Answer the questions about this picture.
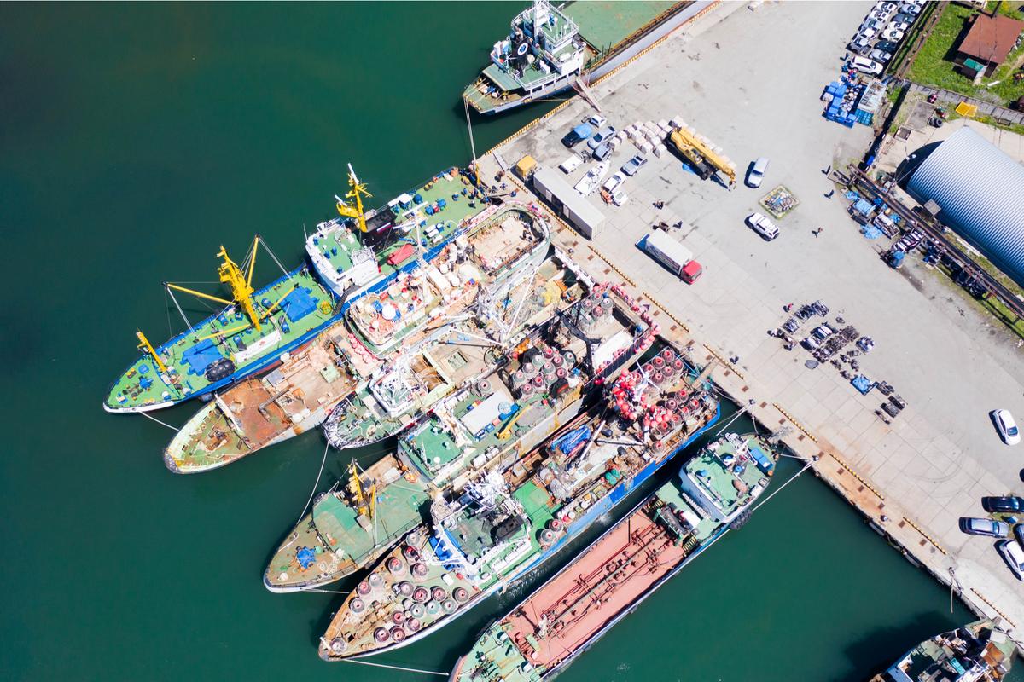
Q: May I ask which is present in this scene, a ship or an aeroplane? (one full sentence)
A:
Looking from above, you can make out a ship.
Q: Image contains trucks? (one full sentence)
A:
Yes, a truck appears in the view.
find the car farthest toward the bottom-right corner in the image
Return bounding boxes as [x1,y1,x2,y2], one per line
[1001,540,1024,583]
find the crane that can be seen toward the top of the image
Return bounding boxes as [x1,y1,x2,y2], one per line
[667,125,740,182]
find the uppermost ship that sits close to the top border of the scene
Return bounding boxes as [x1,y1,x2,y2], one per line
[468,0,743,122]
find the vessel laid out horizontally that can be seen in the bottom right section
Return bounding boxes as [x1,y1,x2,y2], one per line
[876,618,1017,682]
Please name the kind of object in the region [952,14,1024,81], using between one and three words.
house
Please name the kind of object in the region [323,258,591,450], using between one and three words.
vessel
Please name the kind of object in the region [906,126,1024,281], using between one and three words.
hangar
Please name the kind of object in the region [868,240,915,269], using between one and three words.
work vehicle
